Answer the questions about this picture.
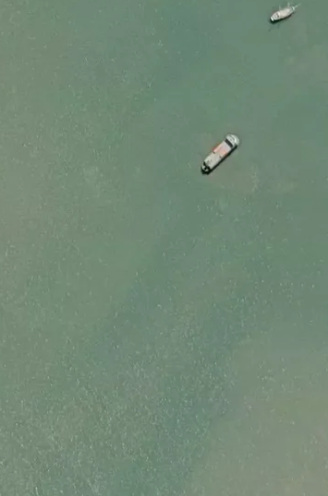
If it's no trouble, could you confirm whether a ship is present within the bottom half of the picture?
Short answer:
No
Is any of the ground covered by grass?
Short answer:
No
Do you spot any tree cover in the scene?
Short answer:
No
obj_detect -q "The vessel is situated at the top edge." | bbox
[271,4,293,22]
